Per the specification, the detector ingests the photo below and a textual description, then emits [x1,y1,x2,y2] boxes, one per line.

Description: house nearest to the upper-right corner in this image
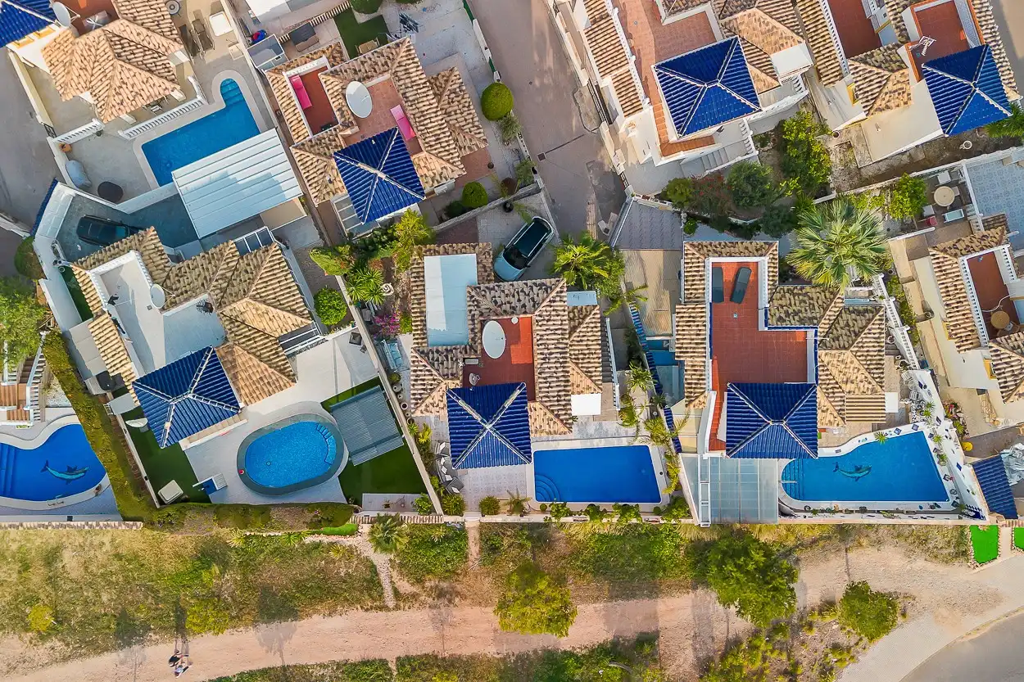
[795,0,1021,165]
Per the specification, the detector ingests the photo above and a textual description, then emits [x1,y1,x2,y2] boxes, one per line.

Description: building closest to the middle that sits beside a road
[408,240,620,471]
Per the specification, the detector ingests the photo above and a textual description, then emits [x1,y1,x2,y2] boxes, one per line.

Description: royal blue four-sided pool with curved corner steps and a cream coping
[528,439,668,509]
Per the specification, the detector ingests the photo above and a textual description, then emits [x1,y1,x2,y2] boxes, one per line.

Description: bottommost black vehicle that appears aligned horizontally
[76,214,149,246]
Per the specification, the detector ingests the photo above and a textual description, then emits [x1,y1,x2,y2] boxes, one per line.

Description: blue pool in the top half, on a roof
[130,68,294,207]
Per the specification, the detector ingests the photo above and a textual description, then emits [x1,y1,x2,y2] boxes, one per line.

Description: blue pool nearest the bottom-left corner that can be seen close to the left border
[0,415,111,509]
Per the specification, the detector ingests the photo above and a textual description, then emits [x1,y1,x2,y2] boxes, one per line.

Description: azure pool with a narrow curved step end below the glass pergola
[774,423,959,510]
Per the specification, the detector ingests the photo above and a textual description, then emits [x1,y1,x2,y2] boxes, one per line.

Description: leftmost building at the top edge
[0,0,203,132]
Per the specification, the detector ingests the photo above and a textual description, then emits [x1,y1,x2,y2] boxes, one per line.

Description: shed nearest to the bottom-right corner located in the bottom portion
[967,455,1018,519]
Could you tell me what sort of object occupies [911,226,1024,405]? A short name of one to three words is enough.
house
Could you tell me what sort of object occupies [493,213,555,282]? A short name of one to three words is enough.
car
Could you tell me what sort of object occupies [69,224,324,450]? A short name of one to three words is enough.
house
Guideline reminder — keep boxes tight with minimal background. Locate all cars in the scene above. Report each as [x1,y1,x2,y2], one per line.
[76,214,149,246]
[493,213,555,282]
